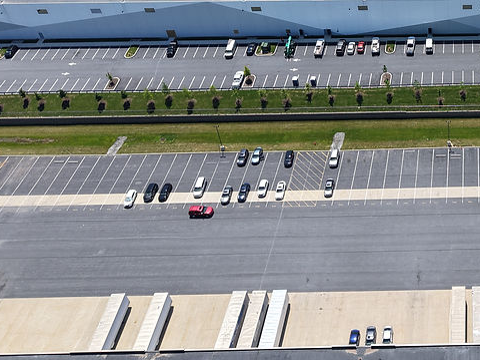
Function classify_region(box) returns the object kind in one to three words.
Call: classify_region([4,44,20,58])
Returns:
car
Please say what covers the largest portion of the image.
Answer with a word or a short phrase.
paved ground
